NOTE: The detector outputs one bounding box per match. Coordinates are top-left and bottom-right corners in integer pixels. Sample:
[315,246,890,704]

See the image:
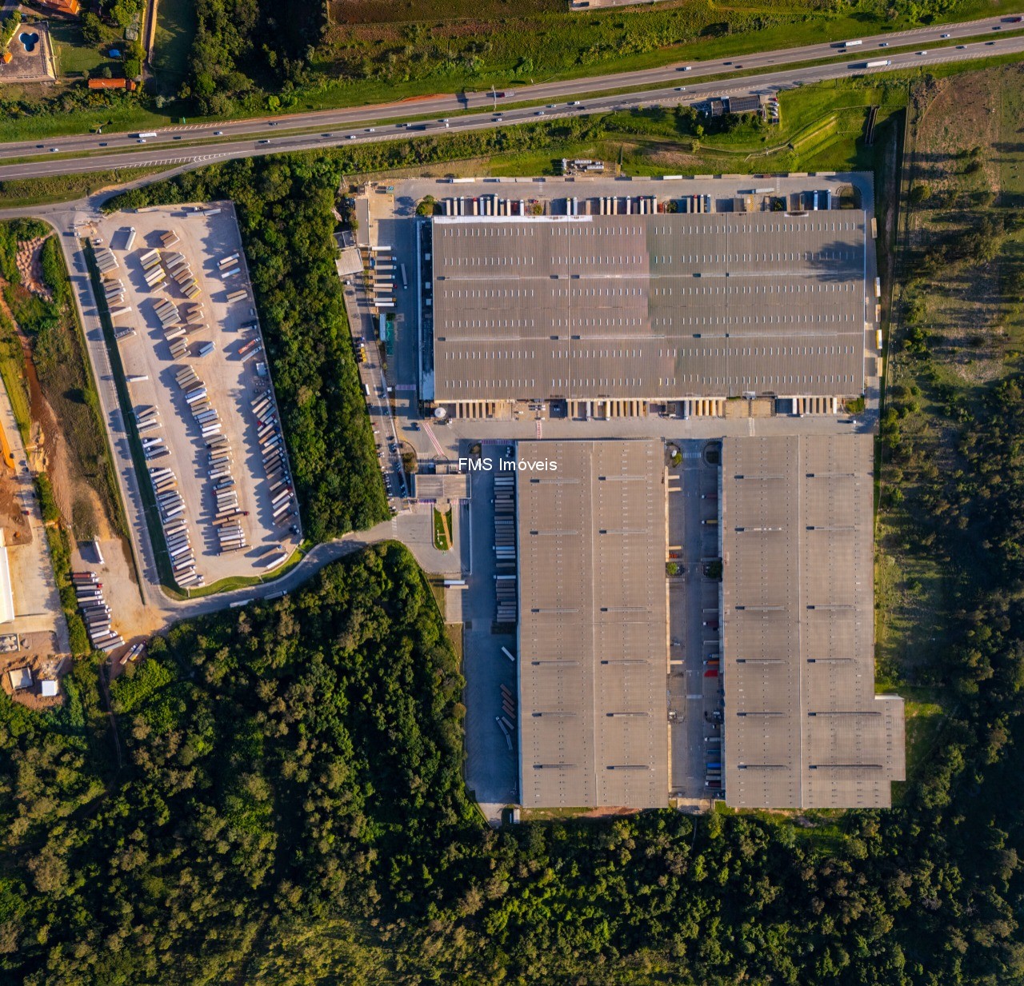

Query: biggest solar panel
[730,96,759,111]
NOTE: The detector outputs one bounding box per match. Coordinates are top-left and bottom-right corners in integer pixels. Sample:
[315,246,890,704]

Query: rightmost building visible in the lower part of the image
[718,434,905,808]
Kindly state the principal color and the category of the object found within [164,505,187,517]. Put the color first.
white vehicle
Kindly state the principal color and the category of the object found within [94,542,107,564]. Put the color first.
white vehicle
